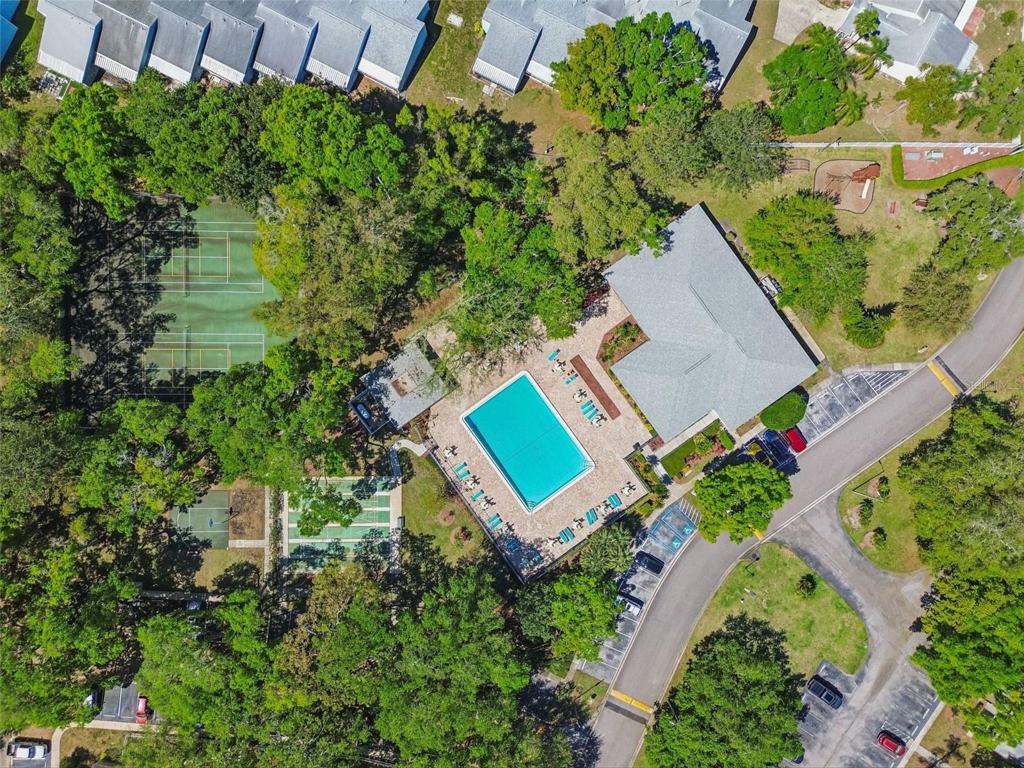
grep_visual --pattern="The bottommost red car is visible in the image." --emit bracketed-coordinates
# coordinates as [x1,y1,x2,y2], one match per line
[877,734,906,757]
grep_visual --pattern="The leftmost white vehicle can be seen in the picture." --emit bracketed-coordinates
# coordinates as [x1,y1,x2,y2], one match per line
[7,741,49,760]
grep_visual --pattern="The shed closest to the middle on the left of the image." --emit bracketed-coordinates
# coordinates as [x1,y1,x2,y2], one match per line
[360,340,456,428]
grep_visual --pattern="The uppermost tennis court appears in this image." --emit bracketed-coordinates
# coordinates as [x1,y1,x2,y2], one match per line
[69,194,295,312]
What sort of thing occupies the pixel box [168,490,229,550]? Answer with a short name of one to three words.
basketball court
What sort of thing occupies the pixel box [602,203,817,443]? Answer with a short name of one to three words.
building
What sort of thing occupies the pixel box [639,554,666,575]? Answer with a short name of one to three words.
car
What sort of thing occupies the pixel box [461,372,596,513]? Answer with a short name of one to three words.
swimming pool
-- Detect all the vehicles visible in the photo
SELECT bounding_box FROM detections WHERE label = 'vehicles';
[750,442,776,469]
[616,594,647,617]
[639,554,666,575]
[7,741,49,760]
[877,734,906,757]
[786,748,809,766]
[134,696,149,724]
[806,677,844,709]
[764,430,791,460]
[780,427,807,455]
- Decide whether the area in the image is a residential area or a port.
residential area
